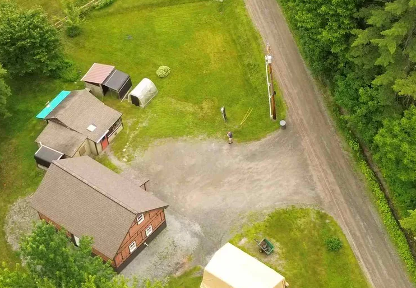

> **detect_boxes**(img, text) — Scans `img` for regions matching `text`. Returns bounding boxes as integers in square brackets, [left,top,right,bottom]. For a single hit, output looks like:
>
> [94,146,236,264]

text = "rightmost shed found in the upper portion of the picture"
[129,77,160,107]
